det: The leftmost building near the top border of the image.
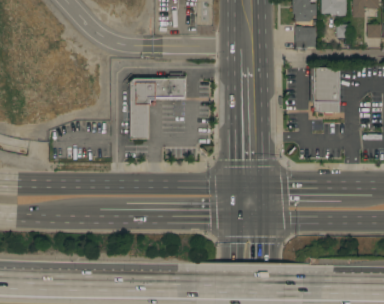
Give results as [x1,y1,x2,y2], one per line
[198,0,213,26]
